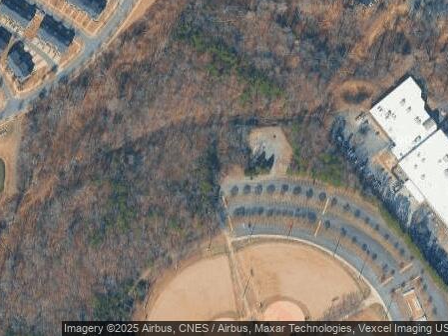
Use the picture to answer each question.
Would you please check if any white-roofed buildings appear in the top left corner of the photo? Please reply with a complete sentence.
No, in the top left corner of the photo there is no white-roofed building.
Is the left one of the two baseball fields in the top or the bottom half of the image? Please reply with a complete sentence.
Seen from above, the left one of the two baseball fields lies in the bottom half of the view.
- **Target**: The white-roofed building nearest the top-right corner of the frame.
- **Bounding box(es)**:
[369,76,436,159]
